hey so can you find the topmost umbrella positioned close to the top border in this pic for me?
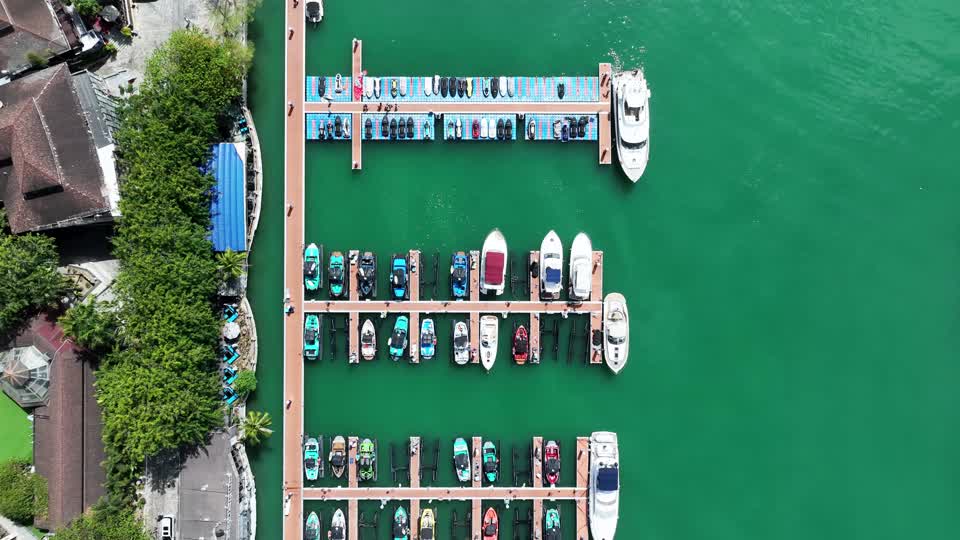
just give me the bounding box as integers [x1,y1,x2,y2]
[103,6,123,24]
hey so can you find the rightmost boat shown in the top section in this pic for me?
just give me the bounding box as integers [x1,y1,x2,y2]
[609,66,652,183]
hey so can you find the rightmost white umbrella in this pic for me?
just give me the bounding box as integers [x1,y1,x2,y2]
[224,322,241,338]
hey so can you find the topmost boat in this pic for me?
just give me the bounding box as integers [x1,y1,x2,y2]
[305,0,325,30]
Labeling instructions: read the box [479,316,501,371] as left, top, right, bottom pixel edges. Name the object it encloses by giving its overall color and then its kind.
white boat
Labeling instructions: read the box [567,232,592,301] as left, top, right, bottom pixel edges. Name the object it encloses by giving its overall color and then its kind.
white boat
